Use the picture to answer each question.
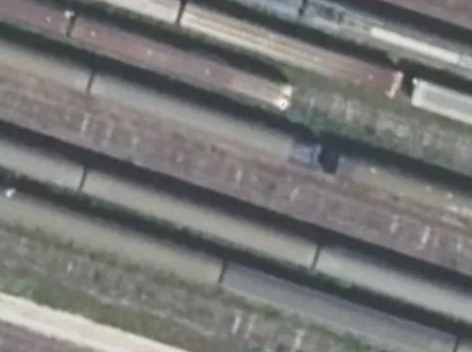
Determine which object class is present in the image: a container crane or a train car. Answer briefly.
train car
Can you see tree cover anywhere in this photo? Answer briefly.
No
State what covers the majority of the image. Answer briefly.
paved ground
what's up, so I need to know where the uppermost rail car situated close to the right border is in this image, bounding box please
[299,0,472,81]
